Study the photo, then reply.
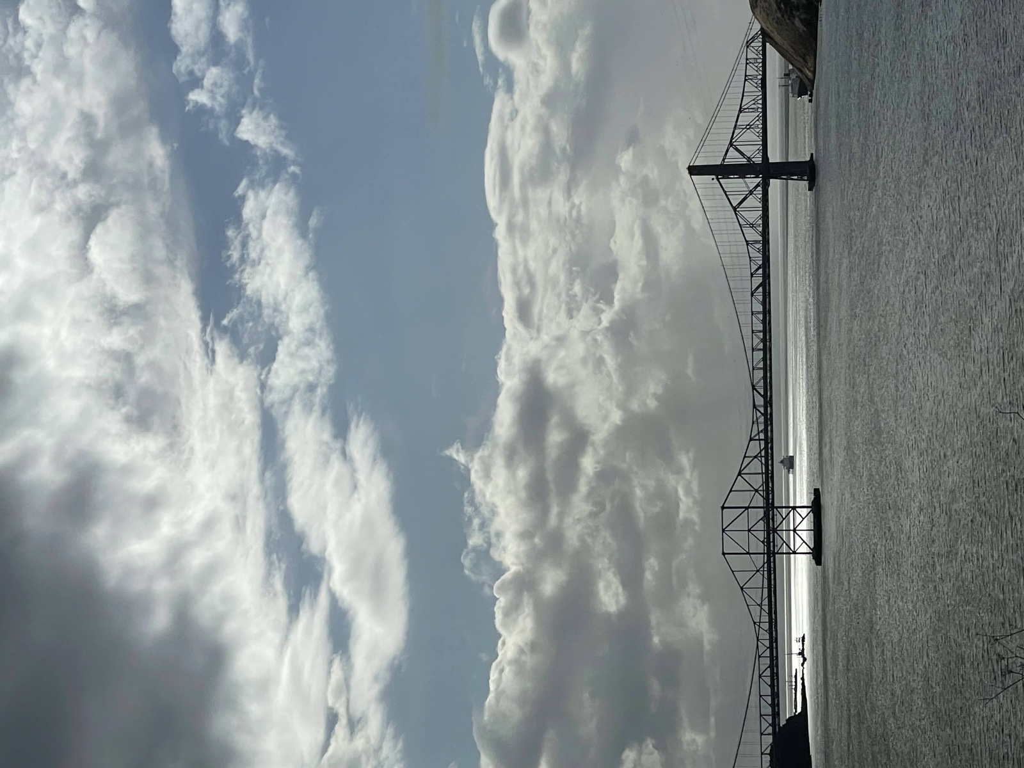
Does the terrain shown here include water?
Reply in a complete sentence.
Yes, there is water in the image.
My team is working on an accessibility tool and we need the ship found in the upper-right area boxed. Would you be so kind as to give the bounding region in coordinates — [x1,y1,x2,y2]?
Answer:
[778,63,808,99]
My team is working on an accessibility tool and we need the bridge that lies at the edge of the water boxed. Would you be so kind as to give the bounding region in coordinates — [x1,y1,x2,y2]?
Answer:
[715,26,820,768]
